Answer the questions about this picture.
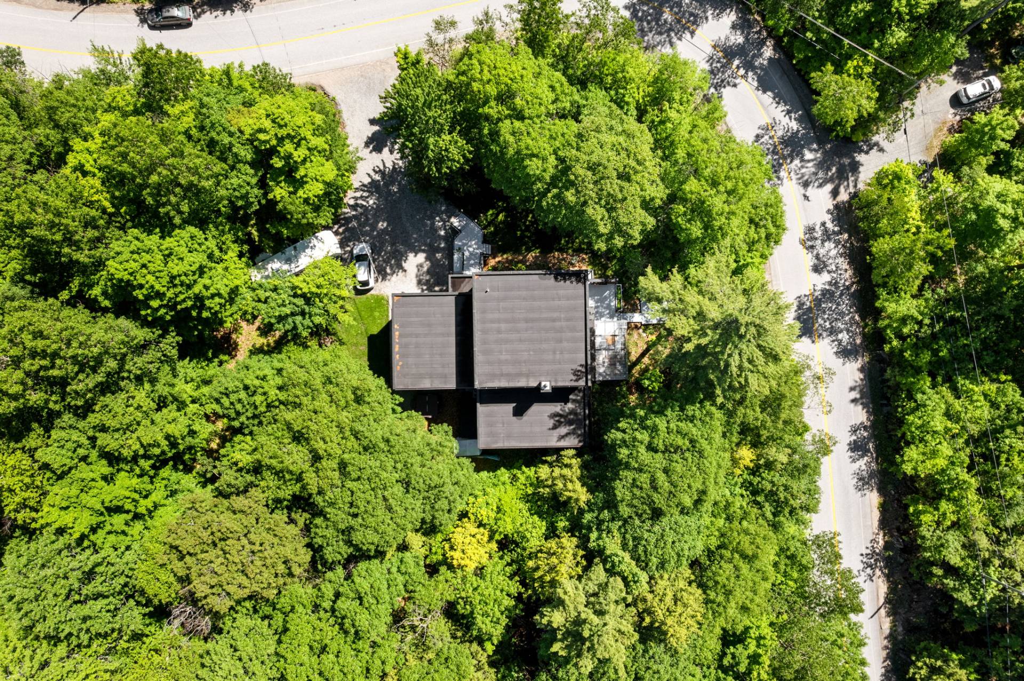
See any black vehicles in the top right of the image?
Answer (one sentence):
No, looking in the top right of the image, there is no black vehicle.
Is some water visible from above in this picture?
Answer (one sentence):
No, there's no water in this view.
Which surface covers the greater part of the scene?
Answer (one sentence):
The largest share of the image is taken up by trees.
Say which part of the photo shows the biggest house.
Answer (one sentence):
The biggest house is located in the center region of the scene.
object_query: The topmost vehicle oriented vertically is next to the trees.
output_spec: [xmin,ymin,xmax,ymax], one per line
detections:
[352,245,376,291]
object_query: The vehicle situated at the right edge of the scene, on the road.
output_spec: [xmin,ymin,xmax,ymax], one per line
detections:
[953,73,1001,107]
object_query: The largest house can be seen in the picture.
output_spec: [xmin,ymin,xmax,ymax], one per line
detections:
[392,270,591,450]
